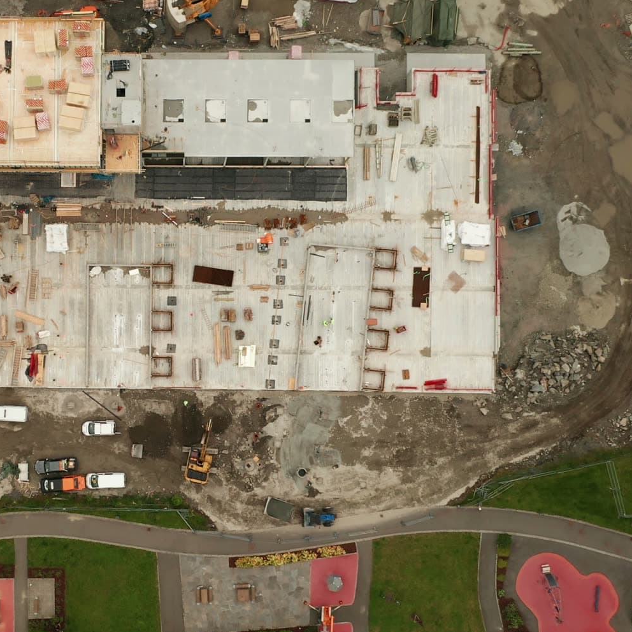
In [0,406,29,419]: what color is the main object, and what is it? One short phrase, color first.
white vehicle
